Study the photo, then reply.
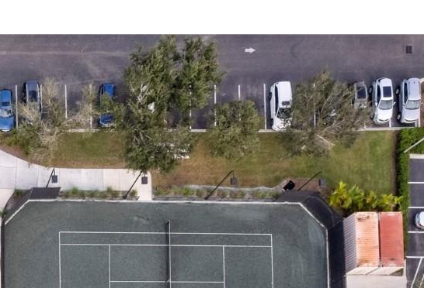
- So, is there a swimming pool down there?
No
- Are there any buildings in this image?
No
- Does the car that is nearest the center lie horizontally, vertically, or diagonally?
vertically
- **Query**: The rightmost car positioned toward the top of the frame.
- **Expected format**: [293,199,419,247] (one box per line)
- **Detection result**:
[397,77,423,123]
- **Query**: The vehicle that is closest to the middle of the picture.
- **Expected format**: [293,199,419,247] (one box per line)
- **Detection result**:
[272,81,294,128]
